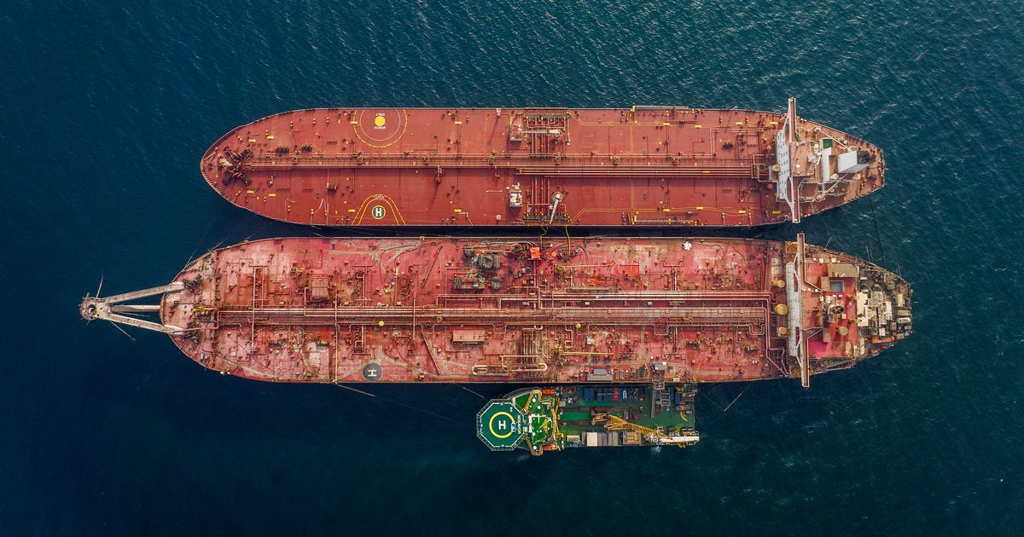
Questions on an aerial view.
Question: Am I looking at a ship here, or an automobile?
ship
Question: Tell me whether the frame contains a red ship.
Yes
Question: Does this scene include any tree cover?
No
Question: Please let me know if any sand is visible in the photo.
No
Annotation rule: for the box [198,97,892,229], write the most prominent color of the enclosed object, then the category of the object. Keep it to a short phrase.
red ship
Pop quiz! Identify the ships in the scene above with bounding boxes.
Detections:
[198,97,892,229]
[476,383,699,455]
[77,231,916,411]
